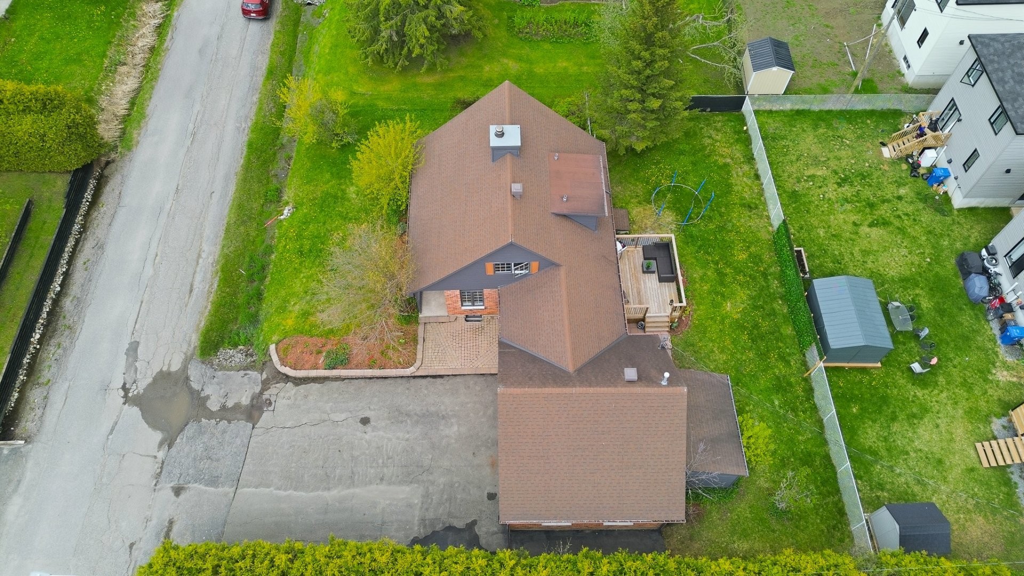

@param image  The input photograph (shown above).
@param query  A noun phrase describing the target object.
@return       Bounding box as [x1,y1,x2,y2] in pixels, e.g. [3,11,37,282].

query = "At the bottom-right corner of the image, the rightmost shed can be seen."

[870,505,959,555]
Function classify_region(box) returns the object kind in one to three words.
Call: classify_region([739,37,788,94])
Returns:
shed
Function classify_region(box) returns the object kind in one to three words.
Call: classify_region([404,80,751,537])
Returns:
house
